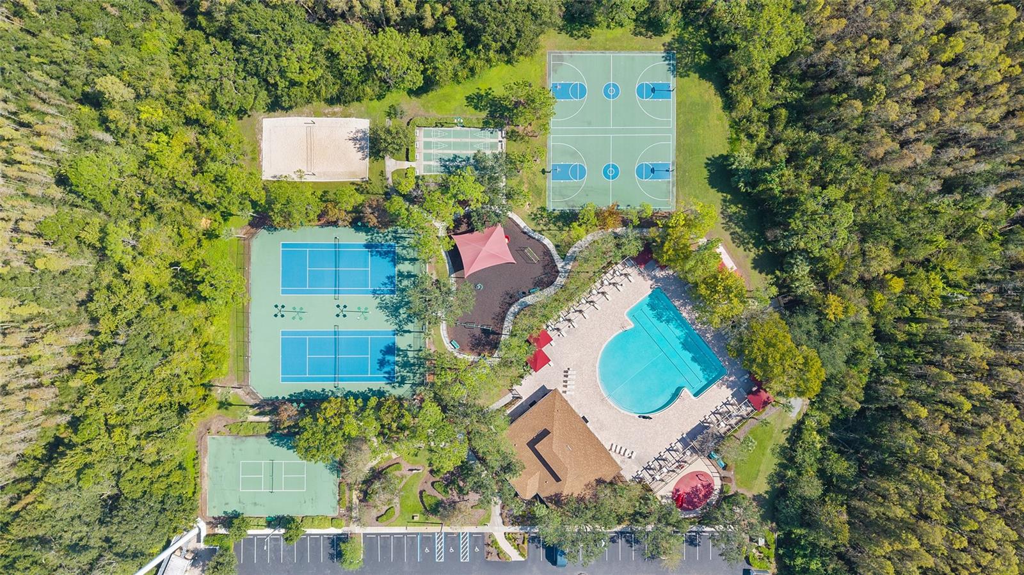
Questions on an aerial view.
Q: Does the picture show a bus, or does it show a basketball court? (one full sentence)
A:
Looking from above, you can make out a basketball court.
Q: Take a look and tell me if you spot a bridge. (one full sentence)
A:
No, there is no bridge in the image.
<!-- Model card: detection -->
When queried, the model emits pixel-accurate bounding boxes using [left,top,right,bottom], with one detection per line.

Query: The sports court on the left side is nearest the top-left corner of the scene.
[262,117,369,181]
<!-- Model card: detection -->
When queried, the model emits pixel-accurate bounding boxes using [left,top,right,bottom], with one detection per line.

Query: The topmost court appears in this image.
[548,51,676,131]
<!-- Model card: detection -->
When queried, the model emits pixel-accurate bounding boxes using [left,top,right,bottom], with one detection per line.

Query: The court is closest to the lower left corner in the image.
[207,436,338,516]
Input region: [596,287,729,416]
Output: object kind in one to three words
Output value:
swimming pool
